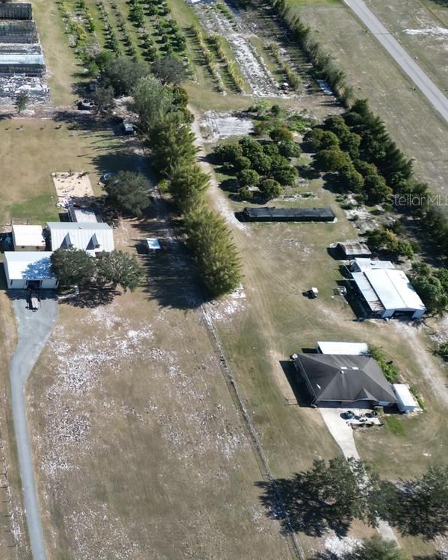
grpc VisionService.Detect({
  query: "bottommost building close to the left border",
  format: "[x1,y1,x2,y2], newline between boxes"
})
[4,251,60,289]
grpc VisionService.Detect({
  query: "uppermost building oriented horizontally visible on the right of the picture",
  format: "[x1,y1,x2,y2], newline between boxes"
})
[244,206,337,223]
